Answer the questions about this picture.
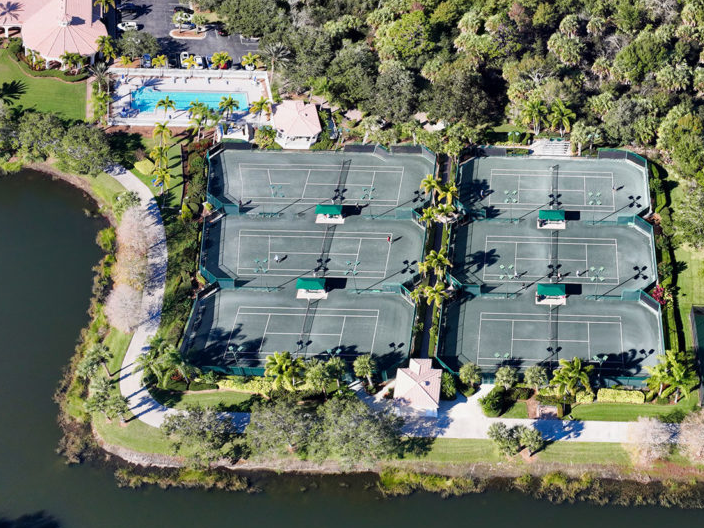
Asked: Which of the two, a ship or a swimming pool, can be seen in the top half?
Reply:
swimming pool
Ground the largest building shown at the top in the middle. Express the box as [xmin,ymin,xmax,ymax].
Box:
[270,98,323,151]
